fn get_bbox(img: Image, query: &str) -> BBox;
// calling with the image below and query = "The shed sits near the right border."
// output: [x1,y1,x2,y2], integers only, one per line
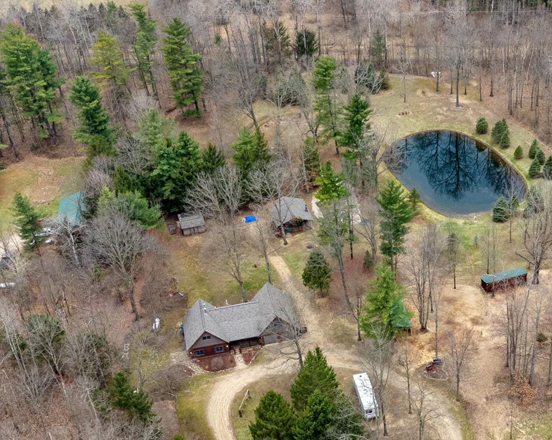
[477,258,530,292]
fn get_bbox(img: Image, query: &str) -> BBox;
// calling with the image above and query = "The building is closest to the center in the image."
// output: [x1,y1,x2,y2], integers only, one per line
[264,199,311,237]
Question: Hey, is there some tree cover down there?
Yes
